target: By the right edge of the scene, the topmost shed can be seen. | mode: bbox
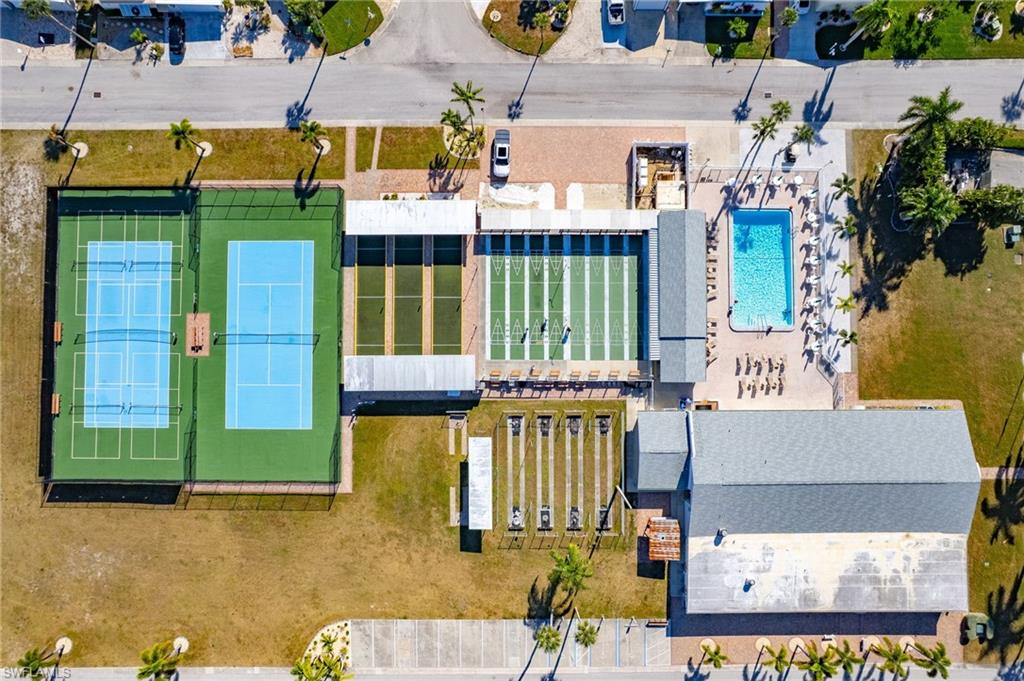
[977,150,1024,198]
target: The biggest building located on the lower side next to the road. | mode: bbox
[684,409,984,614]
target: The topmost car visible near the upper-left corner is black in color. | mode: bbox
[166,13,186,53]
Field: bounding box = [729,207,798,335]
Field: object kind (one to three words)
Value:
swimming pool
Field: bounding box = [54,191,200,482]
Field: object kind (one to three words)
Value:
tennis court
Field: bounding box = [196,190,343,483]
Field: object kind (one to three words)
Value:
tennis court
